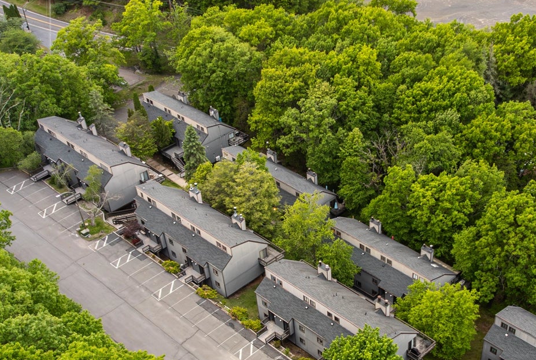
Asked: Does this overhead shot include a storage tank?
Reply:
No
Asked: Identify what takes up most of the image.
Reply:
trees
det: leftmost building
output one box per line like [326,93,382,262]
[32,111,165,211]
